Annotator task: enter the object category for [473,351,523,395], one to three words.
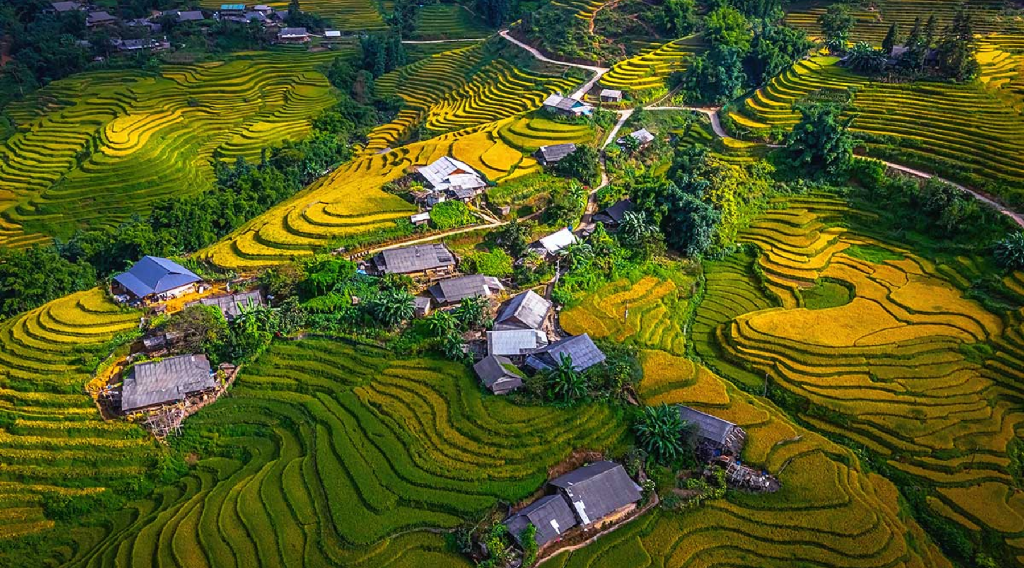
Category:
shed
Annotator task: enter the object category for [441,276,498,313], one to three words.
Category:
house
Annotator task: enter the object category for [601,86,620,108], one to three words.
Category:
shed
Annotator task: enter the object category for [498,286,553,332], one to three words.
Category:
house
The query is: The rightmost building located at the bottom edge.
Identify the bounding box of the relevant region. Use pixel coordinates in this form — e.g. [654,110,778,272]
[553,458,643,540]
